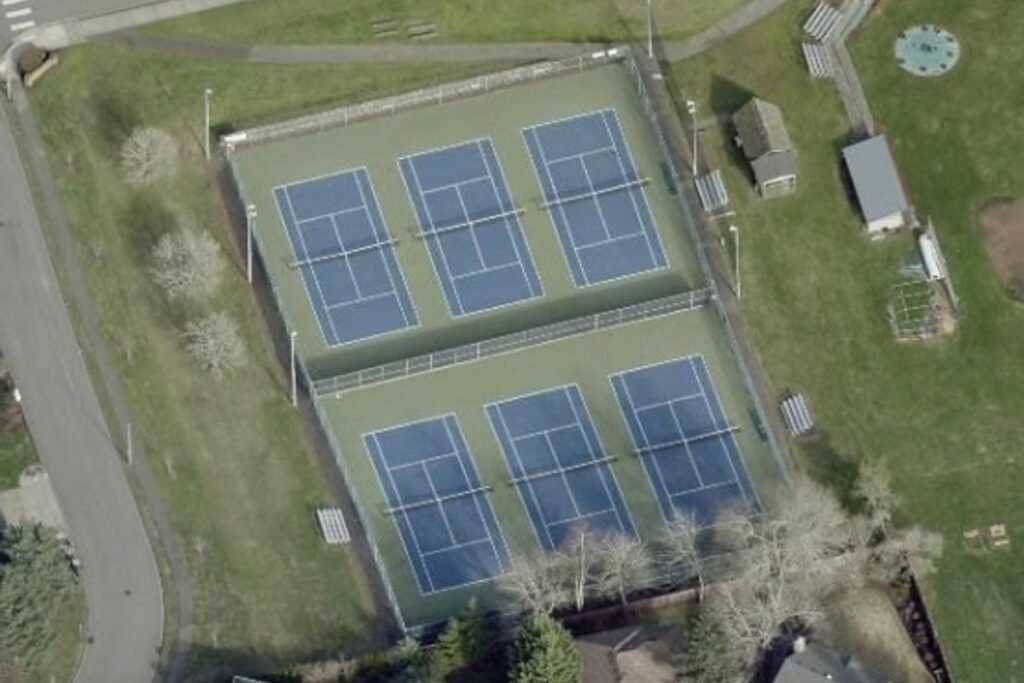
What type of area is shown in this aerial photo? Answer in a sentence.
What you see here is a sports ground.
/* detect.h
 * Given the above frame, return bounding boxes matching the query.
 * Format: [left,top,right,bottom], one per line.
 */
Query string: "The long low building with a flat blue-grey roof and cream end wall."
[838,135,911,244]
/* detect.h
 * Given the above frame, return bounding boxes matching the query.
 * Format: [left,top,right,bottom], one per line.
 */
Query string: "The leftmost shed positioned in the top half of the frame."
[732,97,800,202]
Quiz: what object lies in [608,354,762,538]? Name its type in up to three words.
tennis court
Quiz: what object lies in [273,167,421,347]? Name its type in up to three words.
tennis court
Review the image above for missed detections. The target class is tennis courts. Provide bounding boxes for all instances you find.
[520,108,671,287]
[608,354,762,538]
[362,412,513,597]
[273,167,421,347]
[484,383,636,568]
[396,138,546,317]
